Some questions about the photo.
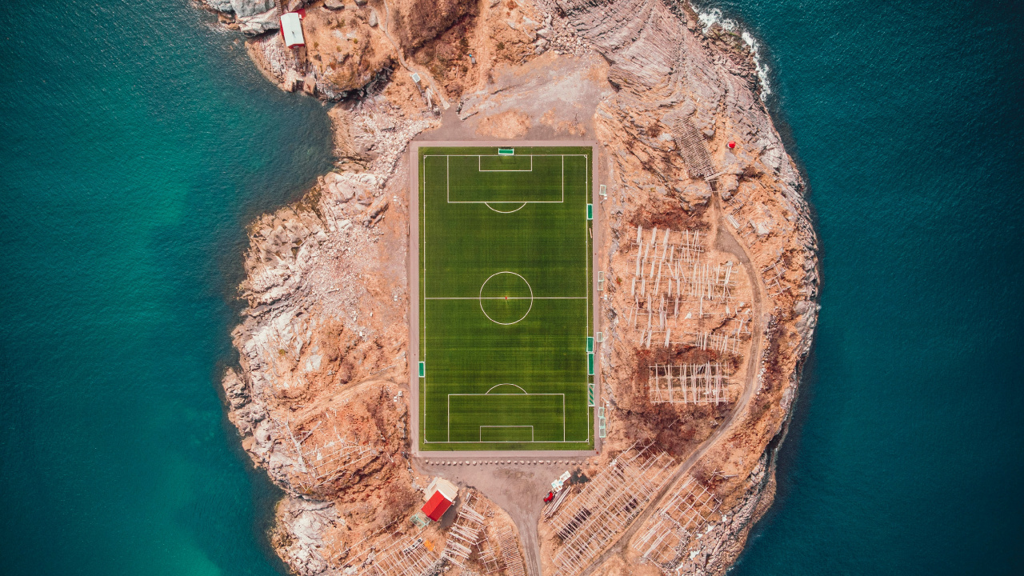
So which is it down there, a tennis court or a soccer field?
soccer field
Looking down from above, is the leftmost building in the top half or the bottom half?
top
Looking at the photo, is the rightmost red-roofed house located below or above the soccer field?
below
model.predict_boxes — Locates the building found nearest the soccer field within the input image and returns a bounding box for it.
[422,476,459,521]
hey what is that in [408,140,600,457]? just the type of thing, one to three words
soccer field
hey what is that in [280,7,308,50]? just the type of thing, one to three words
building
